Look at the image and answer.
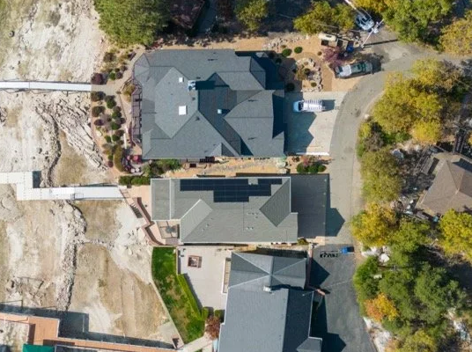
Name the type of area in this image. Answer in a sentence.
The picture captures a residential area.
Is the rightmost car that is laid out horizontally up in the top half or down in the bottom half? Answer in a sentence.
Seen from above, the rightmost car that is laid out horizontally lies in the top half of the view.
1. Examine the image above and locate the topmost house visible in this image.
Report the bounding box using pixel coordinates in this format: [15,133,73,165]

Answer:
[135,51,284,161]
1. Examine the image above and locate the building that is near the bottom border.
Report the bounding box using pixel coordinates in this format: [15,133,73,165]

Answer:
[218,252,322,352]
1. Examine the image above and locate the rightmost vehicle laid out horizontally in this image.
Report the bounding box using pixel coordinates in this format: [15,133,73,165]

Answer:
[334,59,375,80]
